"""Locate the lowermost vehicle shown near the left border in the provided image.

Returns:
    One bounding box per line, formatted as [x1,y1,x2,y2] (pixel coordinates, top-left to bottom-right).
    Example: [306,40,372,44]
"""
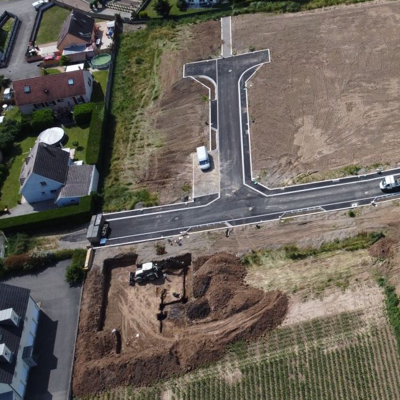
[0,87,14,103]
